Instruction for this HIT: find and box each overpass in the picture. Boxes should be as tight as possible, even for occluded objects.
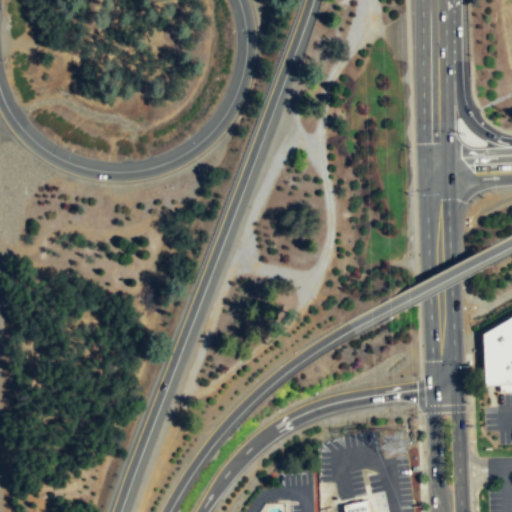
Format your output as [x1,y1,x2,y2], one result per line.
[352,234,512,336]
